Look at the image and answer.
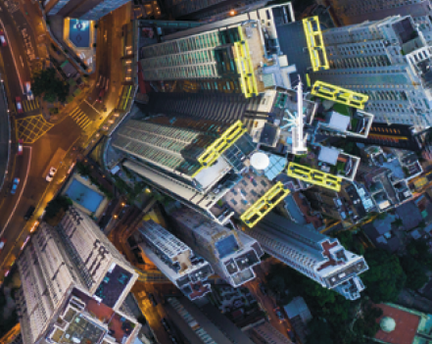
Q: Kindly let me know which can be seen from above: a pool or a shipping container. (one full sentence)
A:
Of the two, only a pool appears.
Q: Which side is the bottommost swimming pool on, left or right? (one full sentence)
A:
It is on the left.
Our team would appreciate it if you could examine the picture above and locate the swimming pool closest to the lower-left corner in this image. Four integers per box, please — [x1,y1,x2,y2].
[64,177,102,213]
